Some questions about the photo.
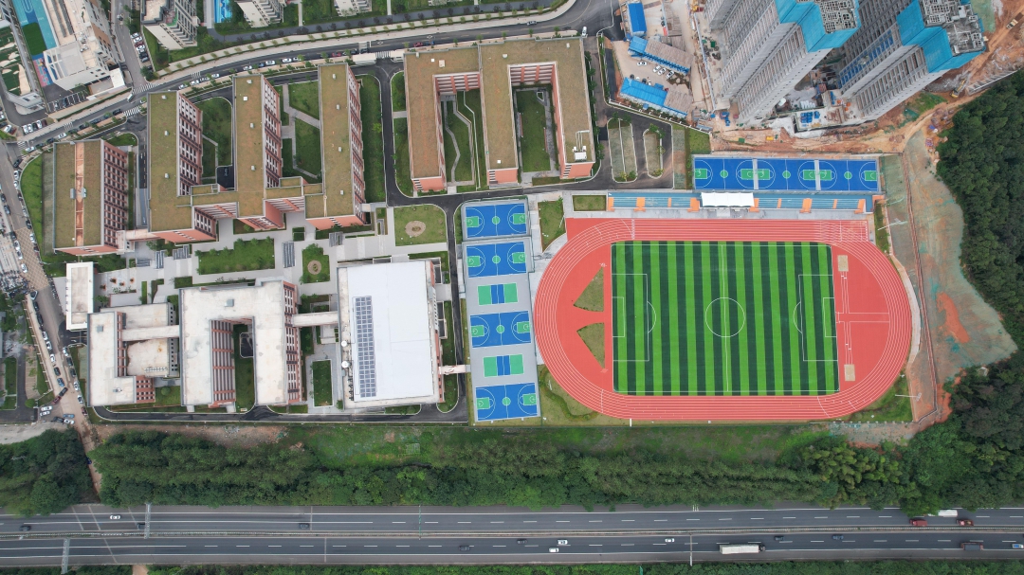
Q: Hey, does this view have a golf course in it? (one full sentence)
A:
No, no golf course can be seen from above.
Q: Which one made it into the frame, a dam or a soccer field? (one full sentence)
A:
Of the two, only a soccer field appears.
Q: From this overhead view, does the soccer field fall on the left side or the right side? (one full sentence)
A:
The soccer field sits on the right side.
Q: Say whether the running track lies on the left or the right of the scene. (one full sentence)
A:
The running track sits on the right side.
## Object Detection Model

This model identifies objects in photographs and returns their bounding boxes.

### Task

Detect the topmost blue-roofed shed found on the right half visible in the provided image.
[627,1,646,37]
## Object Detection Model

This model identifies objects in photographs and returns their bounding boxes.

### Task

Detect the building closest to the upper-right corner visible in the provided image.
[830,0,990,111]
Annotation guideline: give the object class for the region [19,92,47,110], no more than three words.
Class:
building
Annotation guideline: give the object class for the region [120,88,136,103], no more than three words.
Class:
vehicle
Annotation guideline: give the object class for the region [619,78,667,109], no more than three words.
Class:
shed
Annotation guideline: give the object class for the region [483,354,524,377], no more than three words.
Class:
sports court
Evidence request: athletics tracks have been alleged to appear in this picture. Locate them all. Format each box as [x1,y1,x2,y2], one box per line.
[535,219,910,418]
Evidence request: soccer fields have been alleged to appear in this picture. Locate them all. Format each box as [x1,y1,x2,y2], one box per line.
[610,240,839,396]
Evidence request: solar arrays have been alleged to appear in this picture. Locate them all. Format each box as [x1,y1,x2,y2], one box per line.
[355,296,376,398]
